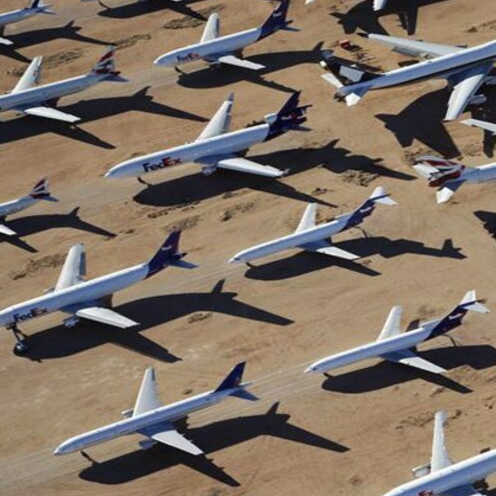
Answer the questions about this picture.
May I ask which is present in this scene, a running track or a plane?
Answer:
plane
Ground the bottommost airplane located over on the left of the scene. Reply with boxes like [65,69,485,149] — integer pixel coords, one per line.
[56,361,261,456]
